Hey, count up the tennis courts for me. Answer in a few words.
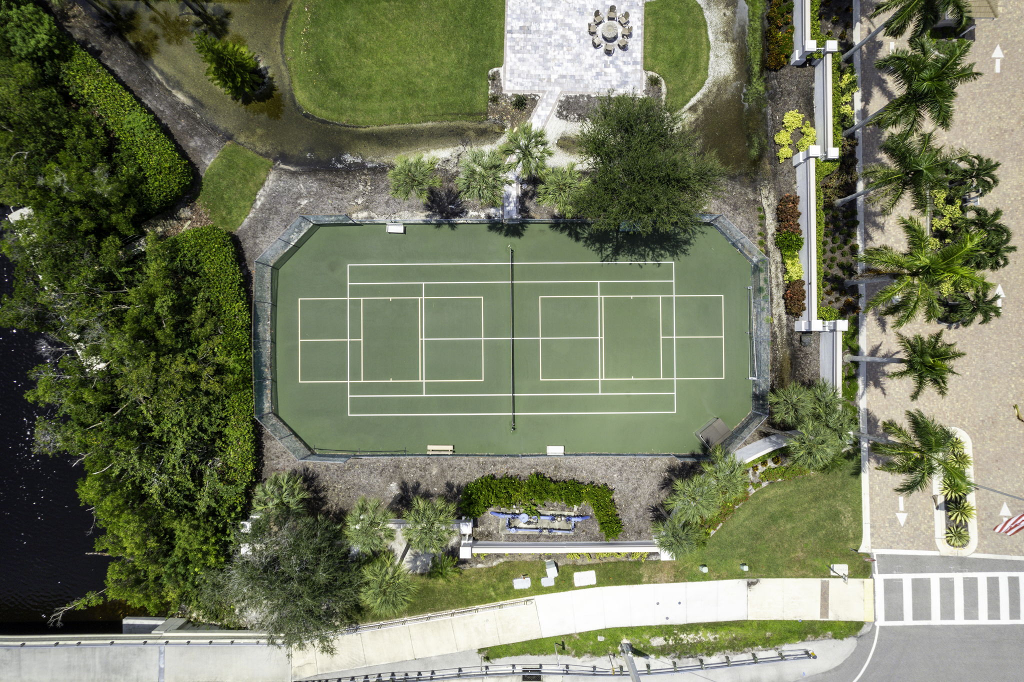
1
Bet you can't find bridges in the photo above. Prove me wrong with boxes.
[0,612,291,682]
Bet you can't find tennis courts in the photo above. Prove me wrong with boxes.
[272,224,752,453]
